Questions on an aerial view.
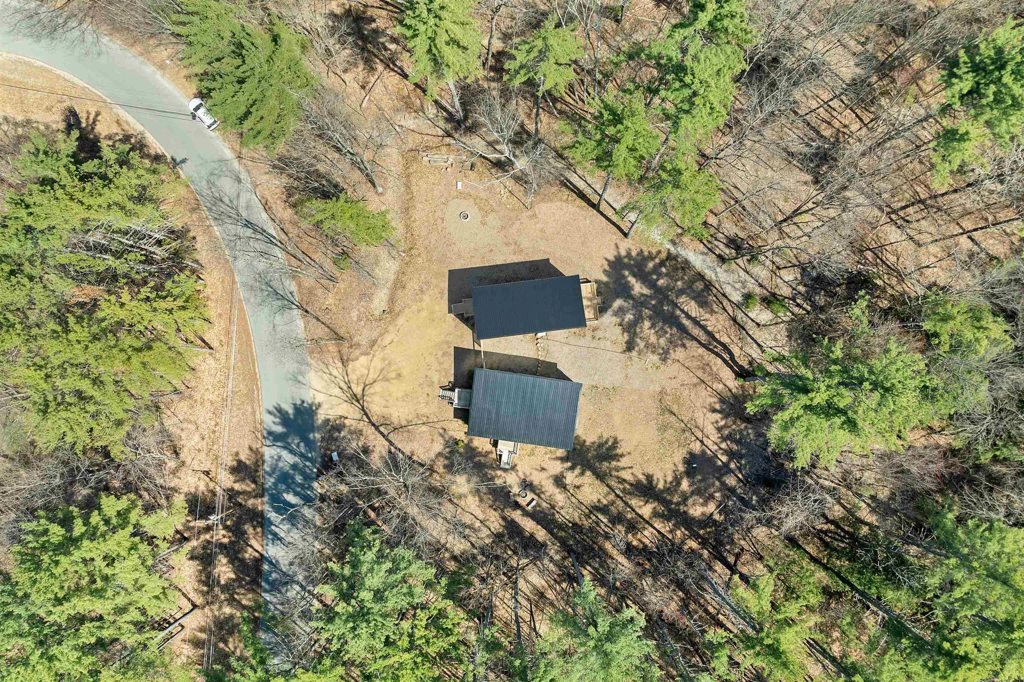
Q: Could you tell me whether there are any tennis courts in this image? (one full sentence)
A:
No, there is no tennis court in the image.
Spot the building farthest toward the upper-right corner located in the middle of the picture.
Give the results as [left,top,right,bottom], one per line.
[452,274,605,340]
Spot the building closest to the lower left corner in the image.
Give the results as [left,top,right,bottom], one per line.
[437,368,582,472]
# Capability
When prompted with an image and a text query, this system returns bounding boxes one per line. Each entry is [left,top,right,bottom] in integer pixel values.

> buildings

[452,274,605,340]
[437,368,582,472]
